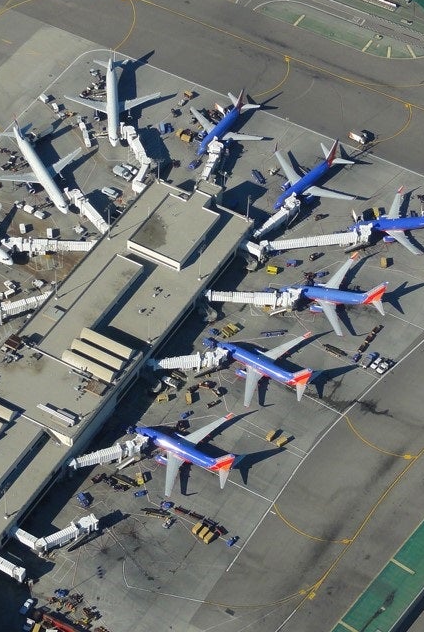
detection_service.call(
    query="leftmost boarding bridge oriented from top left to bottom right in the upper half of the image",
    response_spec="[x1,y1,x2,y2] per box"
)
[64,189,111,239]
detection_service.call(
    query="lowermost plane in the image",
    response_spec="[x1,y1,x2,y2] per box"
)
[136,412,247,498]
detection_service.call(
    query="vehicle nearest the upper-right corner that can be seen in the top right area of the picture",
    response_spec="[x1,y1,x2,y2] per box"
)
[347,125,369,144]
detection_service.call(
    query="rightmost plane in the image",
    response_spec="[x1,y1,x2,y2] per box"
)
[349,185,424,254]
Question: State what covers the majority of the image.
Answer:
paved ground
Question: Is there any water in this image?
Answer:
No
